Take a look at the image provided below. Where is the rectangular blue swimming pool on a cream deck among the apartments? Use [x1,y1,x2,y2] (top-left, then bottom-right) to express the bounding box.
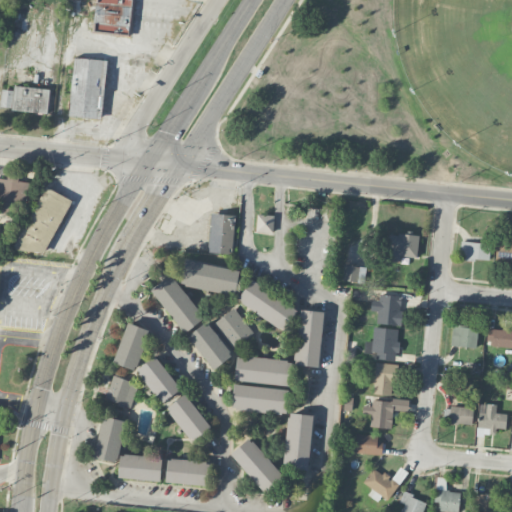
[134,402,156,439]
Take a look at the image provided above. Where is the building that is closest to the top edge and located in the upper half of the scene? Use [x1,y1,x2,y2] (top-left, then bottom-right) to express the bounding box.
[94,0,132,34]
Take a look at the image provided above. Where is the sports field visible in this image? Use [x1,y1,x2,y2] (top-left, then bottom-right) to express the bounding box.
[392,0,512,174]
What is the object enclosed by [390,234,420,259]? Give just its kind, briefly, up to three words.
house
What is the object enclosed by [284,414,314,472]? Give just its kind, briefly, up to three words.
building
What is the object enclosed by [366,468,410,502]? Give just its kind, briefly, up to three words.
house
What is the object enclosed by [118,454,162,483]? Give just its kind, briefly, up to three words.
building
